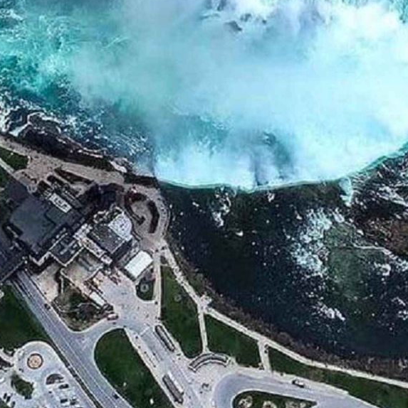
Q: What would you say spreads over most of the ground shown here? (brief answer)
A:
water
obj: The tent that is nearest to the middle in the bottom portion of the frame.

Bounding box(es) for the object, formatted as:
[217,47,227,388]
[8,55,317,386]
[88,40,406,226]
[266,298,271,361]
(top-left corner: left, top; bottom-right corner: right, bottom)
[124,251,153,281]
